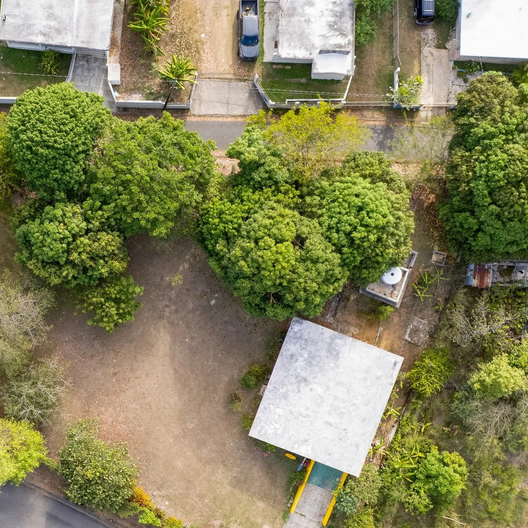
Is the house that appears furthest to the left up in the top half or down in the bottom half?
top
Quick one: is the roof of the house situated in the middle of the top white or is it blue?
white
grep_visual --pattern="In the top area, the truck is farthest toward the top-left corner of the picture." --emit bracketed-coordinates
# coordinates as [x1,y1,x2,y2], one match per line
[236,0,262,58]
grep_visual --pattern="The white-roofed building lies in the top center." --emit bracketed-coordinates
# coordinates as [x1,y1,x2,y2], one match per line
[270,0,357,85]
